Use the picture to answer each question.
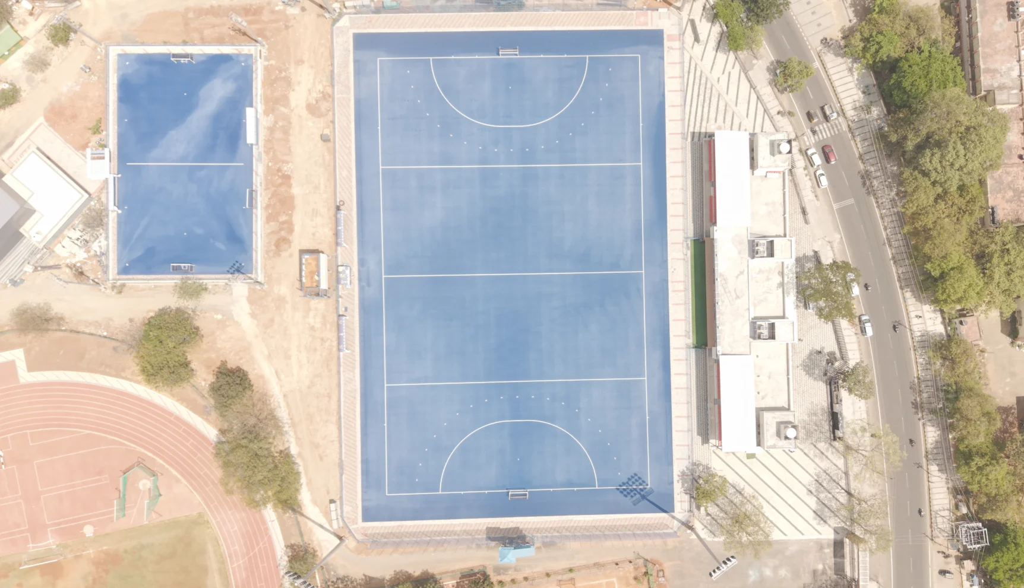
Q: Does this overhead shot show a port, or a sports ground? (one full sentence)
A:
The picture captures a sports ground.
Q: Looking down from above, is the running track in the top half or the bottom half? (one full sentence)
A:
The bottom half of the photo is where the running track is.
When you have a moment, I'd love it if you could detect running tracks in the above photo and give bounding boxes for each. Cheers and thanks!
[0,349,291,588]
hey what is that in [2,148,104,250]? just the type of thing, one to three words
building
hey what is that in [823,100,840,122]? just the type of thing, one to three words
vehicle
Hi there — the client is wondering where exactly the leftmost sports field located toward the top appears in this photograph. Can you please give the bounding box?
[111,48,262,278]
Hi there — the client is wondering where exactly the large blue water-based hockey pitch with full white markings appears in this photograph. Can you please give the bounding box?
[337,12,691,539]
